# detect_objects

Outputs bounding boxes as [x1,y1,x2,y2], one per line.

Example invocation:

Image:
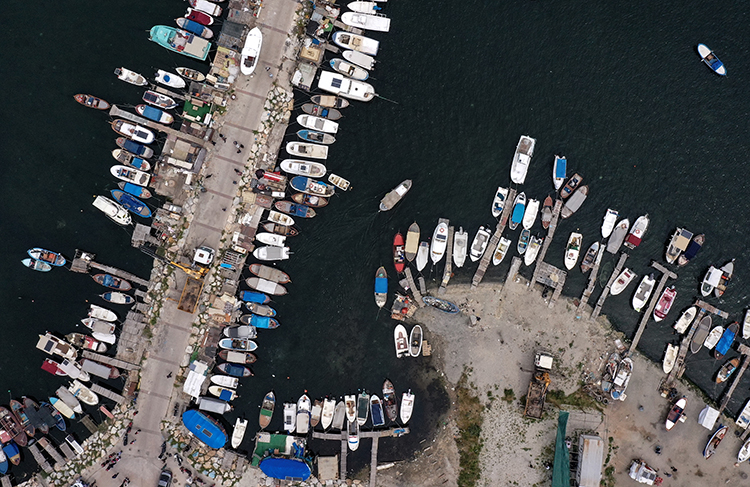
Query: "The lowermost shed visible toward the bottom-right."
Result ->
[570,434,612,487]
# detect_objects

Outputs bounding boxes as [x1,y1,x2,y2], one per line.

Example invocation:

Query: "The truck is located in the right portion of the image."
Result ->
[519,349,565,418]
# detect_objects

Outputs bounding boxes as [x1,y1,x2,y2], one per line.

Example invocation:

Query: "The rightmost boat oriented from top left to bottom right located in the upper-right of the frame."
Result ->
[694,42,728,78]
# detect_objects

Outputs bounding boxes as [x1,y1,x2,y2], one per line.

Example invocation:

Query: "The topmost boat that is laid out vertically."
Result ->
[238,26,264,77]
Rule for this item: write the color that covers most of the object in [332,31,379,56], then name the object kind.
white boat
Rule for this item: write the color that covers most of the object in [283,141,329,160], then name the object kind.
white boat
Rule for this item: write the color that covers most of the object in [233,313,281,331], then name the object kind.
blue boat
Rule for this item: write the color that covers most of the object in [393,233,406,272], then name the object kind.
red boat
